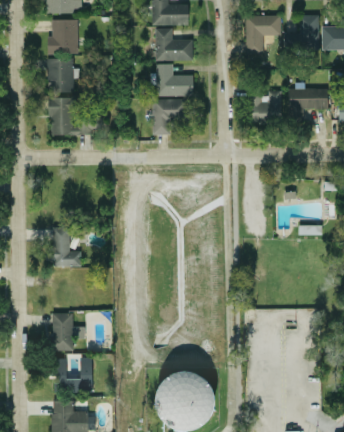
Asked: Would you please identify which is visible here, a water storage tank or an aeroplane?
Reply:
water storage tank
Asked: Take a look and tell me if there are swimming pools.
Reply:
Yes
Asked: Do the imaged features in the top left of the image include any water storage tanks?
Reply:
No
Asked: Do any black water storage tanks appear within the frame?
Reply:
No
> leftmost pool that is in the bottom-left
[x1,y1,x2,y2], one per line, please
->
[66,354,81,379]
